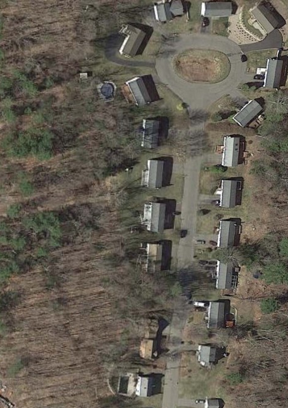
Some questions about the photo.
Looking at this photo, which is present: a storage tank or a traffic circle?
traffic circle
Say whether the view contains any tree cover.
Yes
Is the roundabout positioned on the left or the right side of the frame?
right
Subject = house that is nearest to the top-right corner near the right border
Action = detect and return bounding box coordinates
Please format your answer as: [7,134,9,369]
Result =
[248,1,279,36]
